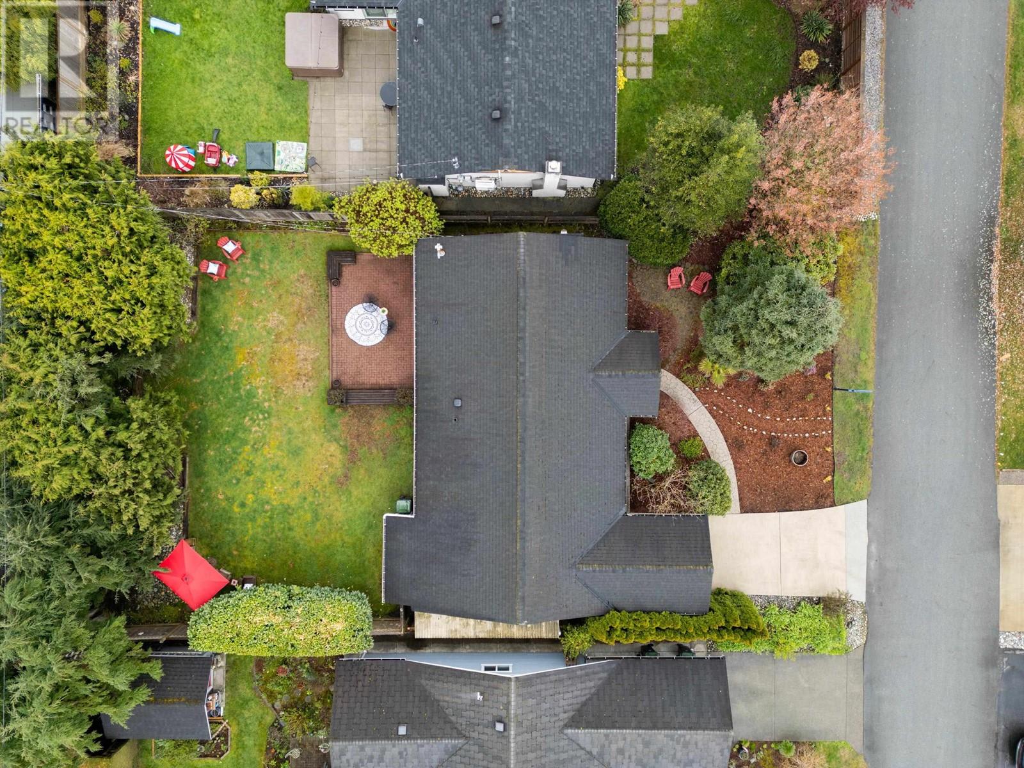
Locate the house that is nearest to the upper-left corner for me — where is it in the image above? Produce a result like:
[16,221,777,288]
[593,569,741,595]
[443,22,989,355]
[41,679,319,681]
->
[310,0,617,196]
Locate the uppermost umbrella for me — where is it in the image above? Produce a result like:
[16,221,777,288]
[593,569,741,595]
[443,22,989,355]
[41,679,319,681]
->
[165,143,197,173]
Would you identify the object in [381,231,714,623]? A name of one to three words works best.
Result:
house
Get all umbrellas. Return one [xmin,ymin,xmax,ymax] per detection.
[154,539,230,609]
[165,143,197,173]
